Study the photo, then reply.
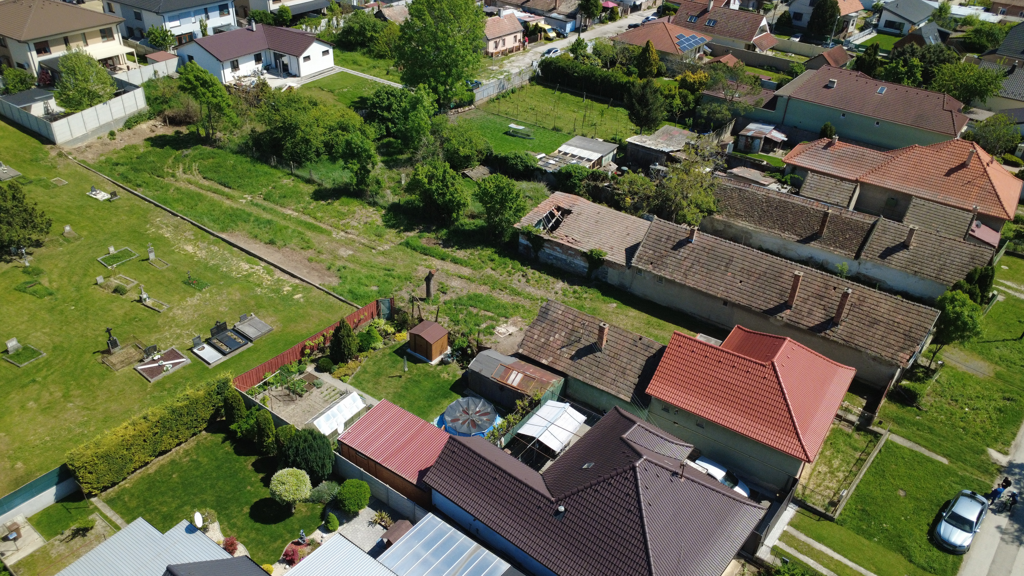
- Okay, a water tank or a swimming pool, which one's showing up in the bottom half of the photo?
swimming pool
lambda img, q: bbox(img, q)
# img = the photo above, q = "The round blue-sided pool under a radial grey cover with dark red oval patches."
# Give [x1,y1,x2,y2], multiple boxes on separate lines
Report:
[439,396,502,438]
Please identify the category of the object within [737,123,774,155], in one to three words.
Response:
shed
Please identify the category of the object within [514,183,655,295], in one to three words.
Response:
shed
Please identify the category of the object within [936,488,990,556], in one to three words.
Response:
car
